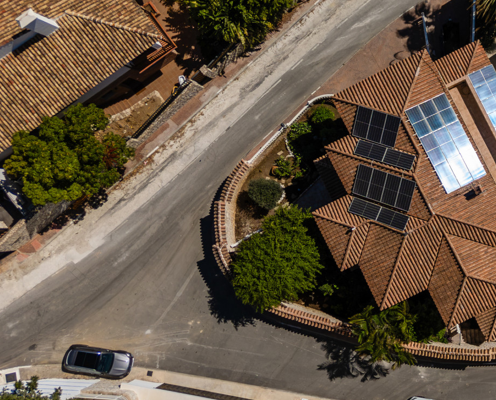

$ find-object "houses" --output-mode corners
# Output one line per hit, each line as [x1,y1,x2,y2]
[0,0,165,156]
[310,41,496,344]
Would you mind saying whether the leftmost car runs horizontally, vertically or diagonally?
horizontally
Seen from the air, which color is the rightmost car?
black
